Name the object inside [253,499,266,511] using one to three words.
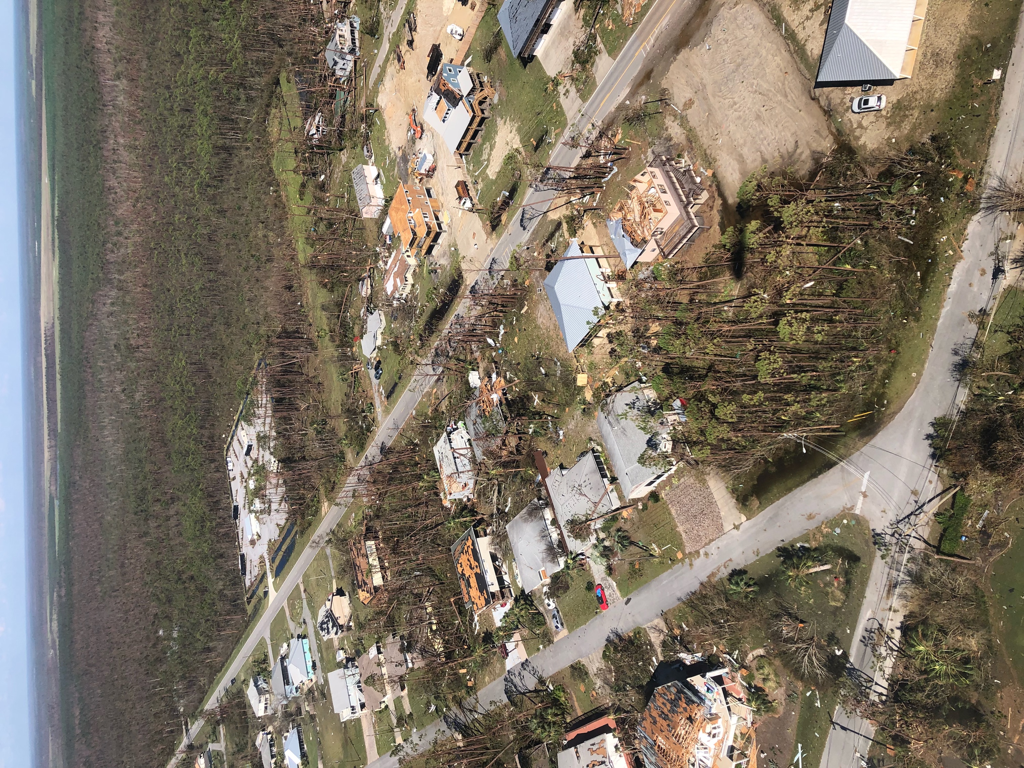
vehicle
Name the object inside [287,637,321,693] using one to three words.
house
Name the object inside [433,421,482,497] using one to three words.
house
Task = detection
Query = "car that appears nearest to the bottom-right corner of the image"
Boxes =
[593,583,608,612]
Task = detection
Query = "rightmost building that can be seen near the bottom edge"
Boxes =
[637,668,754,768]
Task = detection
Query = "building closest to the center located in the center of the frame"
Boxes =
[463,370,517,463]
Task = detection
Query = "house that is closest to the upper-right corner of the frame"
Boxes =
[817,0,931,84]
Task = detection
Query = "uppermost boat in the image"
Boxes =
[443,23,461,41]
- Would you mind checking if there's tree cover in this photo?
Yes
